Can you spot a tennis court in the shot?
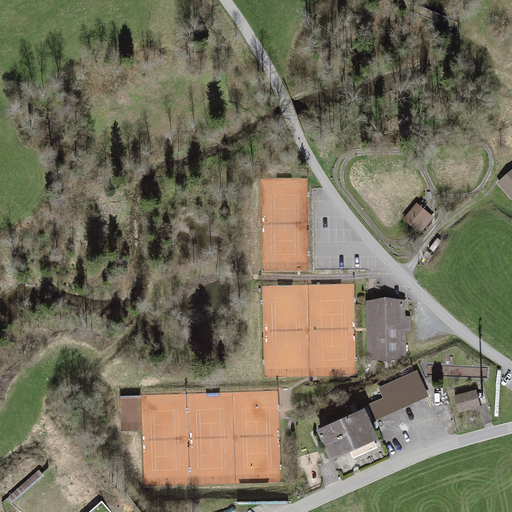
Yes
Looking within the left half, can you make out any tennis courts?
Yes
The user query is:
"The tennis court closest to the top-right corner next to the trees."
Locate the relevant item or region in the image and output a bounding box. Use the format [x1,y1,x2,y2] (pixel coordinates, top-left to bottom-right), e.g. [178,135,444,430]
[260,178,309,271]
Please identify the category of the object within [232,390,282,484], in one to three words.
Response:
tennis court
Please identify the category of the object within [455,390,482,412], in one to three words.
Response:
house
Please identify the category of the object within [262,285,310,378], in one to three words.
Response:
tennis court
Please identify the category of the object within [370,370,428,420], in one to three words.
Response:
building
